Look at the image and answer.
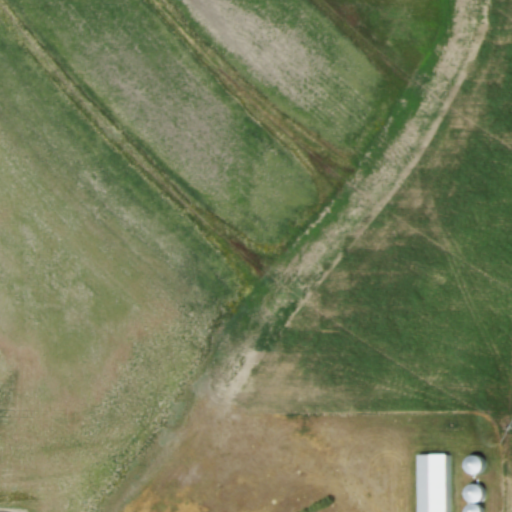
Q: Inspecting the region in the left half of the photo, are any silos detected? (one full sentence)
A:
No, no silo appears in the left half of the photo.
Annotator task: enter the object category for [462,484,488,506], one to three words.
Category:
silo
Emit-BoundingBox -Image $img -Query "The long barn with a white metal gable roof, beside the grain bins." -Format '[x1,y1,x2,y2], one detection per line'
[416,452,452,512]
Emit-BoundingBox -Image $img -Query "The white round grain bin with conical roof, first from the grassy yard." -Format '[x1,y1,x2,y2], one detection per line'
[462,455,488,478]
